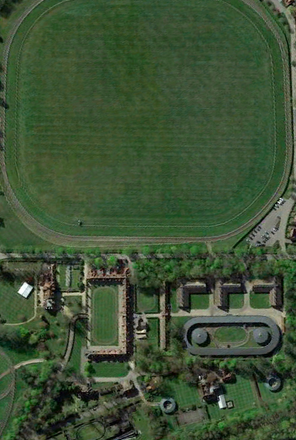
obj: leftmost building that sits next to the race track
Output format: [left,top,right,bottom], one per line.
[41,264,56,308]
